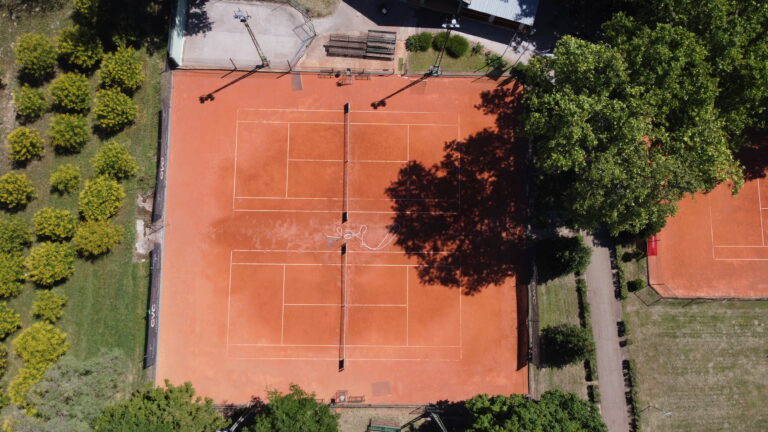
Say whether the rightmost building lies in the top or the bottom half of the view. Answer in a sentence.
The rightmost building is in the top half of the image.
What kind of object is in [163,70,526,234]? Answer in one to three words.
tennis court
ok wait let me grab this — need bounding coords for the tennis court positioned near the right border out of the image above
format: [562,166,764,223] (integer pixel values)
[640,116,768,299]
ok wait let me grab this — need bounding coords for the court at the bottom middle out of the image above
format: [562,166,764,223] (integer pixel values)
[154,229,530,406]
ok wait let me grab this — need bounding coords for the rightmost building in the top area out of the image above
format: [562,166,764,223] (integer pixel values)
[458,0,539,38]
